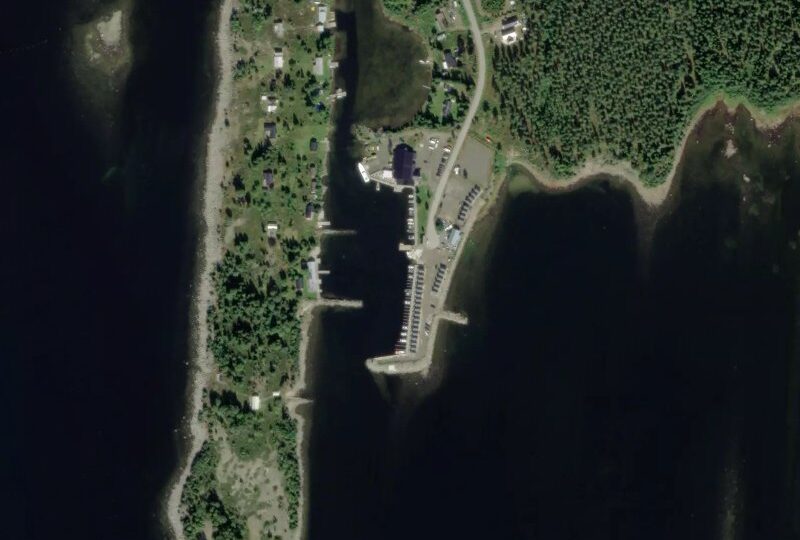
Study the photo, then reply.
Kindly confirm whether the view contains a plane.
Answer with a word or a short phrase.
No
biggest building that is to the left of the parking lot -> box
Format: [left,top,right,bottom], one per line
[393,150,420,187]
